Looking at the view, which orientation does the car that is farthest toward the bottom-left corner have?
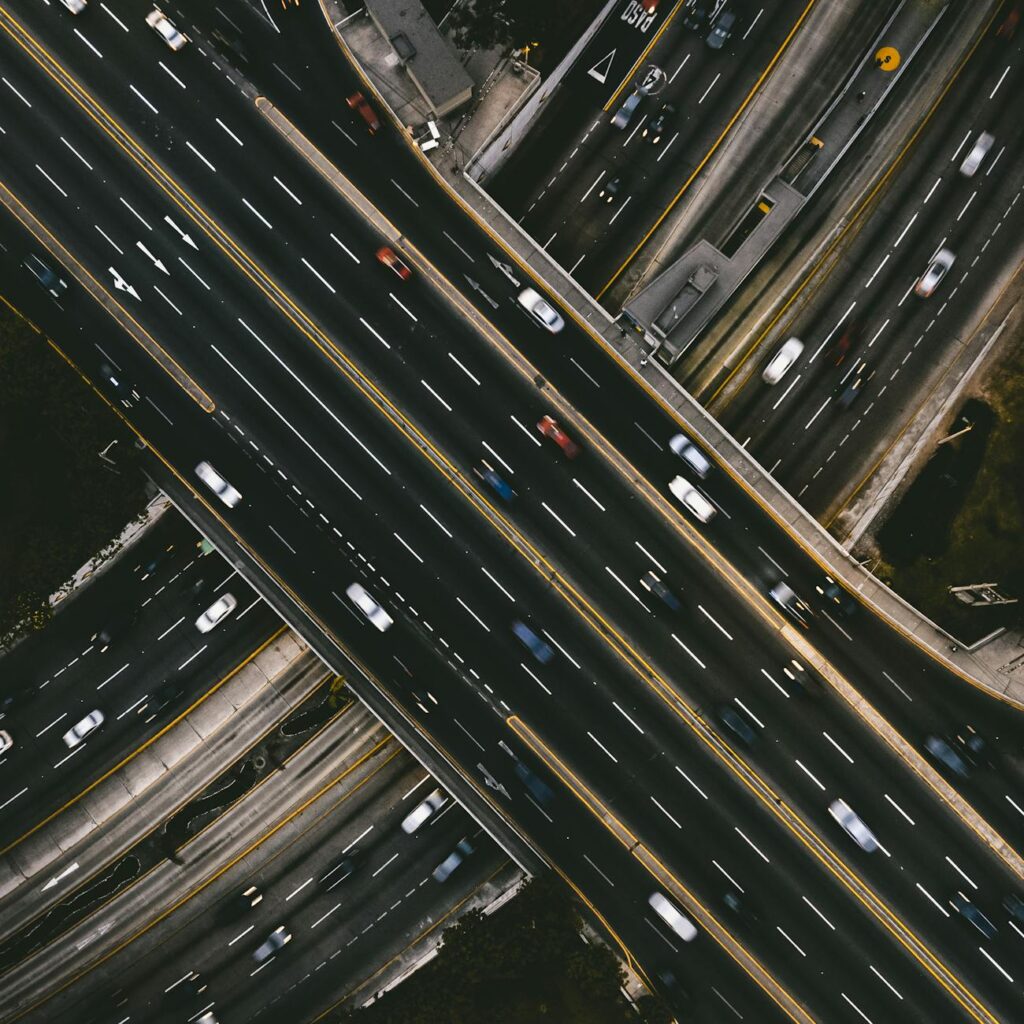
at an angle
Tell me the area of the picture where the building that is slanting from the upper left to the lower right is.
top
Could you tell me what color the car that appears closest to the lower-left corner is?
black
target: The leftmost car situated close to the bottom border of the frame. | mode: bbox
[90,981,136,1023]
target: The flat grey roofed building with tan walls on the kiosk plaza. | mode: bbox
[361,0,474,116]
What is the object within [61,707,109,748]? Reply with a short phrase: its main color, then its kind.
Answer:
white car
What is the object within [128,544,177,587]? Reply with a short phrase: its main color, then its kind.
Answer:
black car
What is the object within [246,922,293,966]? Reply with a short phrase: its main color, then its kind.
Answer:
gray car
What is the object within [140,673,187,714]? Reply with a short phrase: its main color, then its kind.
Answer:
black car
